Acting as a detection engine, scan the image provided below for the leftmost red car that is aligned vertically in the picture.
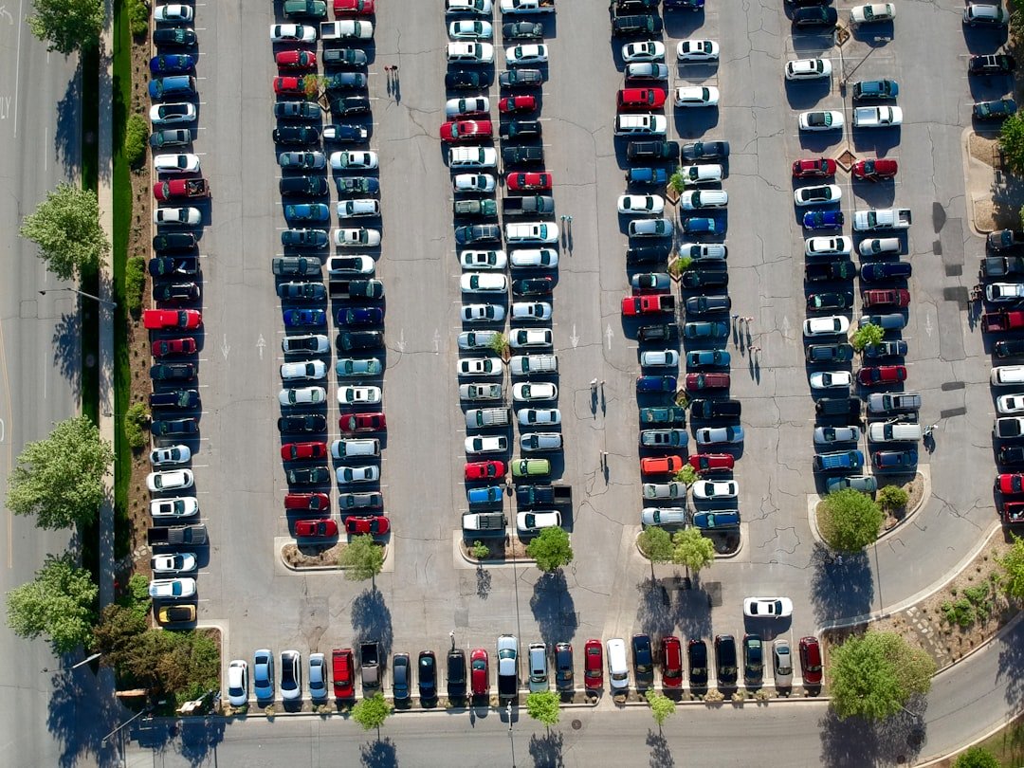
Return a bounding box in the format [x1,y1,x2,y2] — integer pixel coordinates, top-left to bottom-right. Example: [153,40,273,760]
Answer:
[332,648,354,697]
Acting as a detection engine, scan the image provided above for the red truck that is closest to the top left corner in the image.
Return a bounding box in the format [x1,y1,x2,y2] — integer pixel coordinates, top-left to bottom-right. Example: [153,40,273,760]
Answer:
[153,177,211,201]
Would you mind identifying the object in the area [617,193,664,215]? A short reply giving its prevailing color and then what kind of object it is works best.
white car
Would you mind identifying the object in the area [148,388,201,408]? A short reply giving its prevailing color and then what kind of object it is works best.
black vehicle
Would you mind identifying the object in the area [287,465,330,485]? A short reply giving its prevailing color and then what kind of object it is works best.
black car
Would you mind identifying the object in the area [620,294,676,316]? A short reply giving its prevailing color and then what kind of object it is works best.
red truck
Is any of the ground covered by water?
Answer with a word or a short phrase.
No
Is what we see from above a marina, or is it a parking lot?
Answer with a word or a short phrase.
parking lot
